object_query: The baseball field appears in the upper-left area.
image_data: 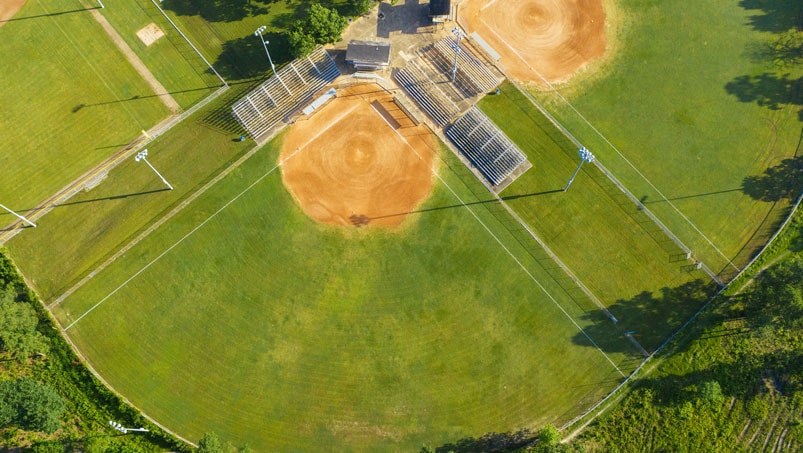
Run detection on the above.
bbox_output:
[0,0,227,237]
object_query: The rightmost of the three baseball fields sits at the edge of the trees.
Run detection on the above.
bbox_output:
[462,0,803,284]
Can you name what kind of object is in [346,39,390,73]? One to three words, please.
building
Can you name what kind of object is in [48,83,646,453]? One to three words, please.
baseball field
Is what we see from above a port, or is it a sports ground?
sports ground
